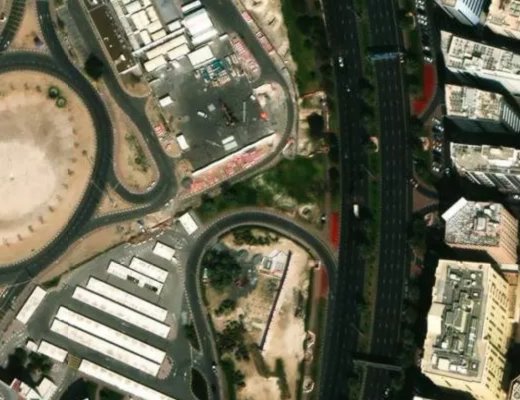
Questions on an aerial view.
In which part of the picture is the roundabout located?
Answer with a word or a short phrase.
left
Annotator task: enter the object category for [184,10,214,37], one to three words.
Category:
building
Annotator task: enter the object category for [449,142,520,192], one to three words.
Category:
building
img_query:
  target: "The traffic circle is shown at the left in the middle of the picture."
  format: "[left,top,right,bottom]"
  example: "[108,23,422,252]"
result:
[0,54,110,282]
